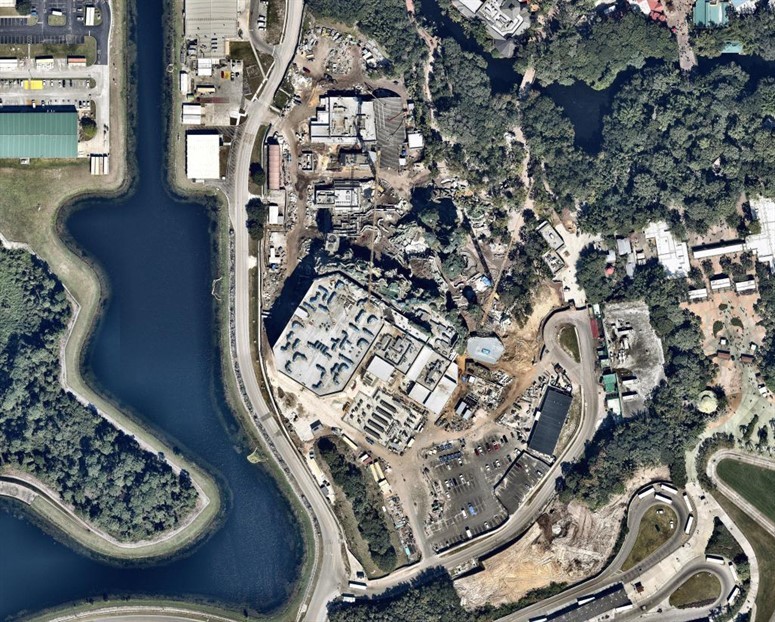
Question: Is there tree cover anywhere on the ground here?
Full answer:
Yes, there's tree cover in this view.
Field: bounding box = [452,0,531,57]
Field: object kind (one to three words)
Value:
building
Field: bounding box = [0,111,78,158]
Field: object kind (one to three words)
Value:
building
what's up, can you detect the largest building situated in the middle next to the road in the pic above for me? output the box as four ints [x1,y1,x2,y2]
[272,273,384,397]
